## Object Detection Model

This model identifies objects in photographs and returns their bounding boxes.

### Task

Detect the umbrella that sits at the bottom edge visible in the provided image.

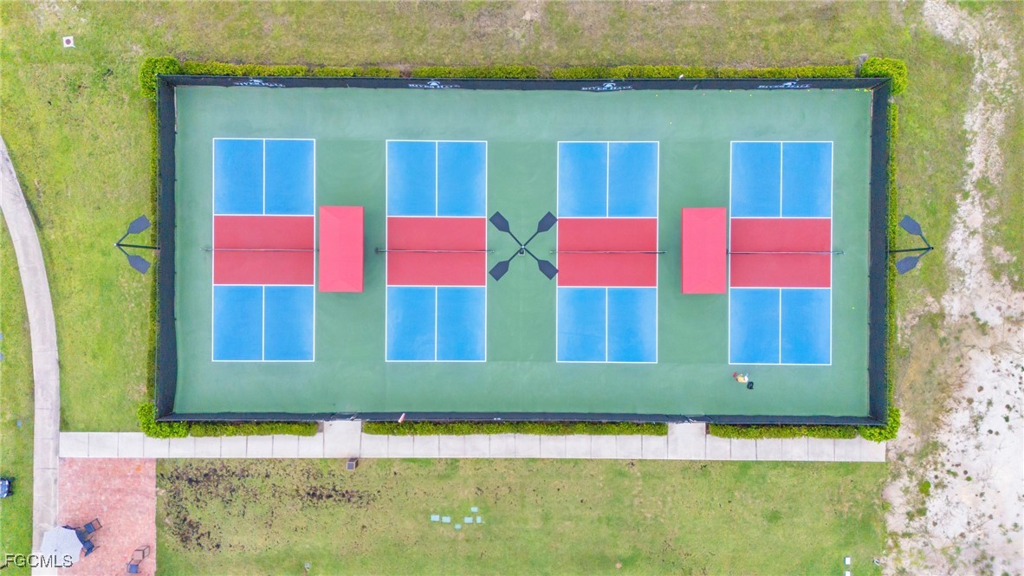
[40,527,85,570]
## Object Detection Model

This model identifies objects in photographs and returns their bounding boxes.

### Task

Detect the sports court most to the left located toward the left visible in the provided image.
[212,138,315,362]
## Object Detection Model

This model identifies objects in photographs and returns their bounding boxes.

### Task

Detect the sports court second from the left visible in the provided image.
[386,140,487,362]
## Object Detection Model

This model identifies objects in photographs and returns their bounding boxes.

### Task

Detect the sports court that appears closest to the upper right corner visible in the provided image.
[730,141,833,365]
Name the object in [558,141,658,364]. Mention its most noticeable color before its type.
blue sports court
